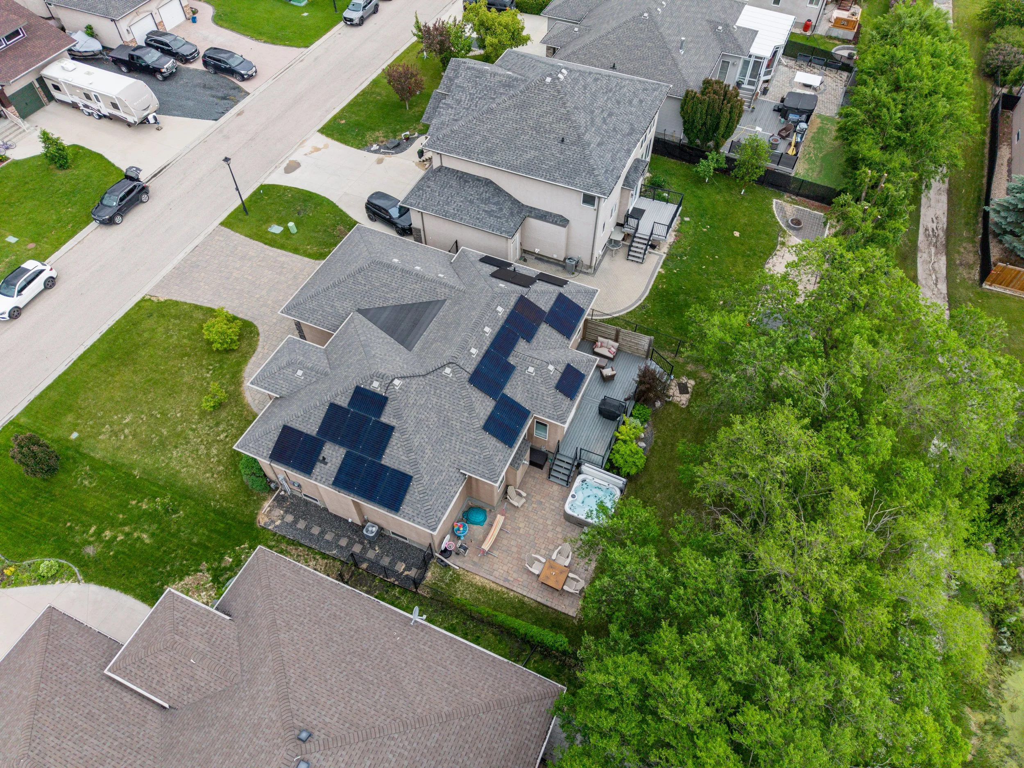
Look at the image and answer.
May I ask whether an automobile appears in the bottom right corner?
No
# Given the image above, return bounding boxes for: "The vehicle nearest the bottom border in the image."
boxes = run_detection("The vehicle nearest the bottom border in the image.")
[0,262,56,325]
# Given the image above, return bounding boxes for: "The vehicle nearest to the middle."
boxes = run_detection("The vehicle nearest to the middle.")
[360,190,416,237]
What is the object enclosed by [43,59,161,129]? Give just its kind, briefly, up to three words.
trailer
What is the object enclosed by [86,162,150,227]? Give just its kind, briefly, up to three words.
car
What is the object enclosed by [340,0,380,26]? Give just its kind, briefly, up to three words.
car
